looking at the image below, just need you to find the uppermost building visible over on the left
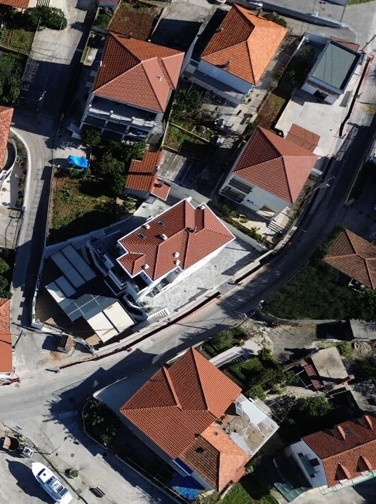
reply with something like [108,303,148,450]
[80,30,185,144]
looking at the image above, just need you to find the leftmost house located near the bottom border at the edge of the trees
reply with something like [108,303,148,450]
[113,346,281,494]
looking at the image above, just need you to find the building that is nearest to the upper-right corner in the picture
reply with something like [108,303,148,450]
[296,39,364,110]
